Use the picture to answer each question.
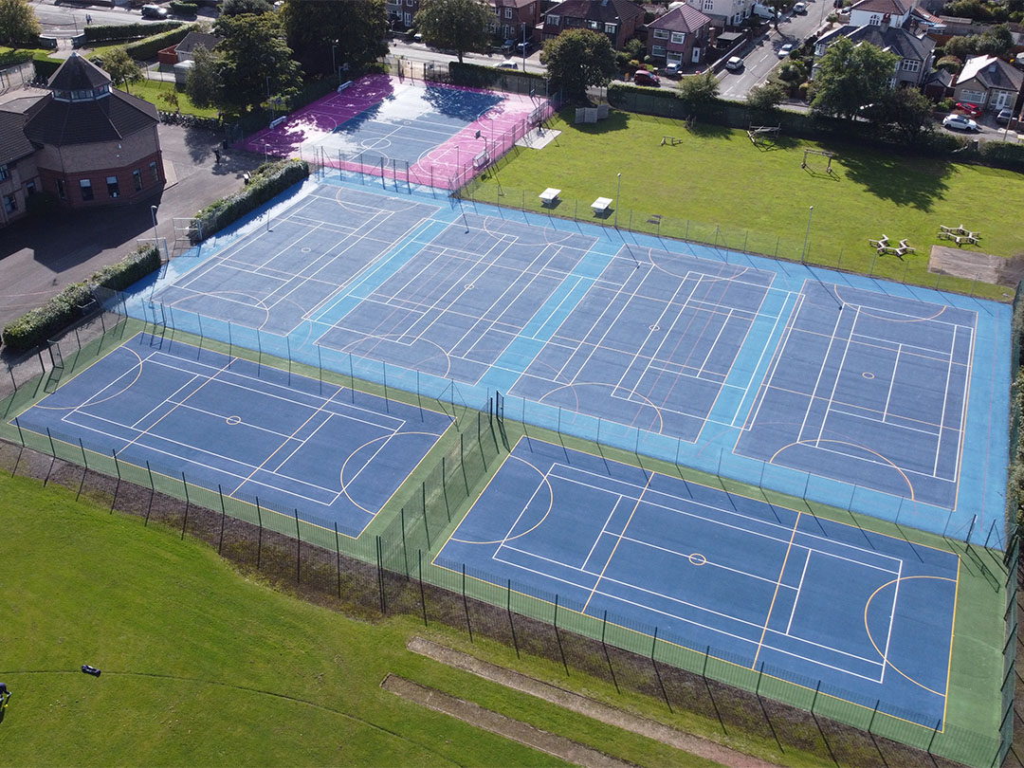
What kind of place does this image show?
sports ground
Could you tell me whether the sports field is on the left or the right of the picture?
right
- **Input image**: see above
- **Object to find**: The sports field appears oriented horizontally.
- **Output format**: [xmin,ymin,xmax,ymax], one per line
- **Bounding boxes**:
[456,97,1024,301]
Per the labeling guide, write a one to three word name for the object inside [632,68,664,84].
car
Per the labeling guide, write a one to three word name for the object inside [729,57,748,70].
vehicle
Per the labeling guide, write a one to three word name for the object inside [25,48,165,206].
building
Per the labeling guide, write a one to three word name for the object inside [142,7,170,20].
vehicle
